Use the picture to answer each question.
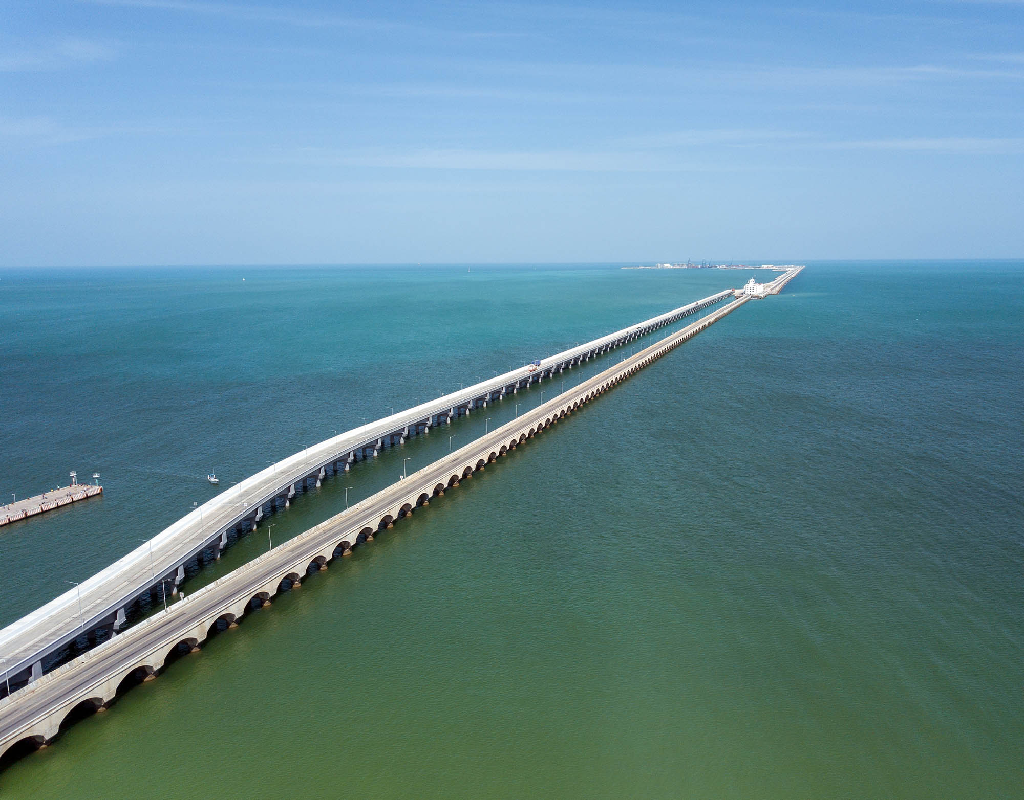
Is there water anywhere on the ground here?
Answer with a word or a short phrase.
Yes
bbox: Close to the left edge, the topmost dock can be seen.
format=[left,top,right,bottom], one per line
[0,484,102,527]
